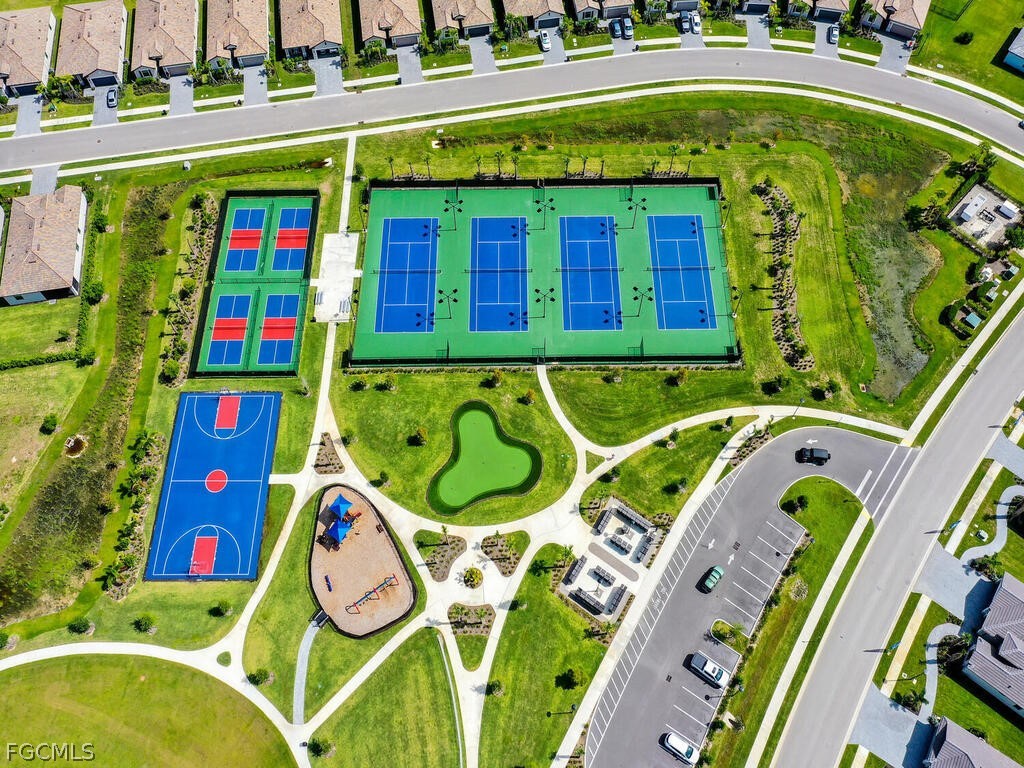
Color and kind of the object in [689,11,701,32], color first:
white vehicle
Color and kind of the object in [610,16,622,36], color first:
blue vehicle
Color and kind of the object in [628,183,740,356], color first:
green tennis court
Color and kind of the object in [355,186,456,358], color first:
green tennis court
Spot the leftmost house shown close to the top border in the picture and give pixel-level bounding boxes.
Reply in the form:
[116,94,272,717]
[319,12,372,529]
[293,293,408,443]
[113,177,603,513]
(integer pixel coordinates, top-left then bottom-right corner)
[0,6,55,99]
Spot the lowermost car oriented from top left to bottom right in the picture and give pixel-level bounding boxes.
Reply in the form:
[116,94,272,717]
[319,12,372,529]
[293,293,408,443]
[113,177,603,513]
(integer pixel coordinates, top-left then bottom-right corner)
[665,731,702,765]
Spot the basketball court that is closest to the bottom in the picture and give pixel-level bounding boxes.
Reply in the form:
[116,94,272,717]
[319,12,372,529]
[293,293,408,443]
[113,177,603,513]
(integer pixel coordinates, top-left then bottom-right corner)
[142,391,284,582]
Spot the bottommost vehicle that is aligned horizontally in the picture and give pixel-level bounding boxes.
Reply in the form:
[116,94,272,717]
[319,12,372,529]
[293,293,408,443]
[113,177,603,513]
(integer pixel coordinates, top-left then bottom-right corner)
[797,447,834,462]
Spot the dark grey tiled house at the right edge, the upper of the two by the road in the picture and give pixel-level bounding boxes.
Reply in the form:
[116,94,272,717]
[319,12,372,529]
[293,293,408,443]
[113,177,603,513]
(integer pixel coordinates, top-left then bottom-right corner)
[958,571,1024,712]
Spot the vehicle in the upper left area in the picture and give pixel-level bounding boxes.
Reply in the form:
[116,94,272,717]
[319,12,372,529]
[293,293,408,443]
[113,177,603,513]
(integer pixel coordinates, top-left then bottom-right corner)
[105,87,117,106]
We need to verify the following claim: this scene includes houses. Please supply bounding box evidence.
[501,0,565,26]
[0,185,86,305]
[0,6,55,99]
[56,0,126,85]
[785,0,849,20]
[280,0,342,57]
[1005,33,1024,72]
[641,0,698,17]
[713,0,774,13]
[571,0,634,24]
[207,0,268,71]
[358,0,421,52]
[432,0,494,40]
[958,571,1024,712]
[920,716,1024,768]
[865,0,934,37]
[131,0,198,81]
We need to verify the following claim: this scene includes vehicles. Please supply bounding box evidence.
[704,563,724,590]
[621,10,634,37]
[610,16,622,36]
[665,731,702,765]
[797,447,834,462]
[539,26,551,49]
[679,6,691,30]
[693,651,731,686]
[689,11,701,32]
[105,87,117,106]
[830,22,841,42]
